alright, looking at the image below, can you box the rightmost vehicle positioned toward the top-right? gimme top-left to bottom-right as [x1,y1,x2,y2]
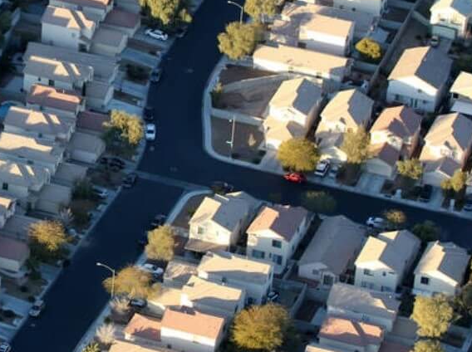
[428,32,444,47]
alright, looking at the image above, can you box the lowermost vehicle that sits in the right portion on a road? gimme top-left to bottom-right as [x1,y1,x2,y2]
[361,212,389,229]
